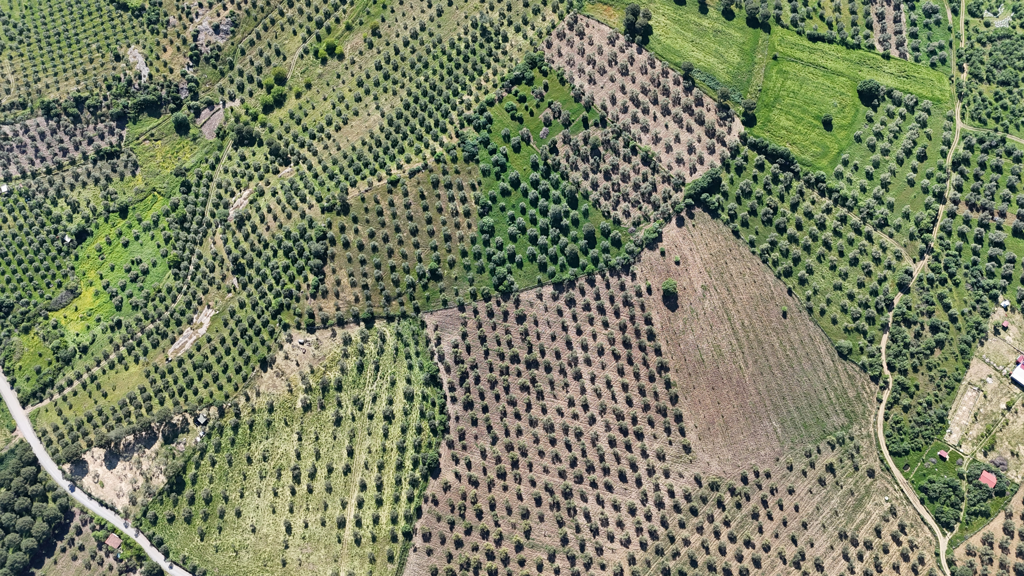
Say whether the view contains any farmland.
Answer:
Yes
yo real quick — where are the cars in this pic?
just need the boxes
[164,357,173,364]
[198,429,206,437]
